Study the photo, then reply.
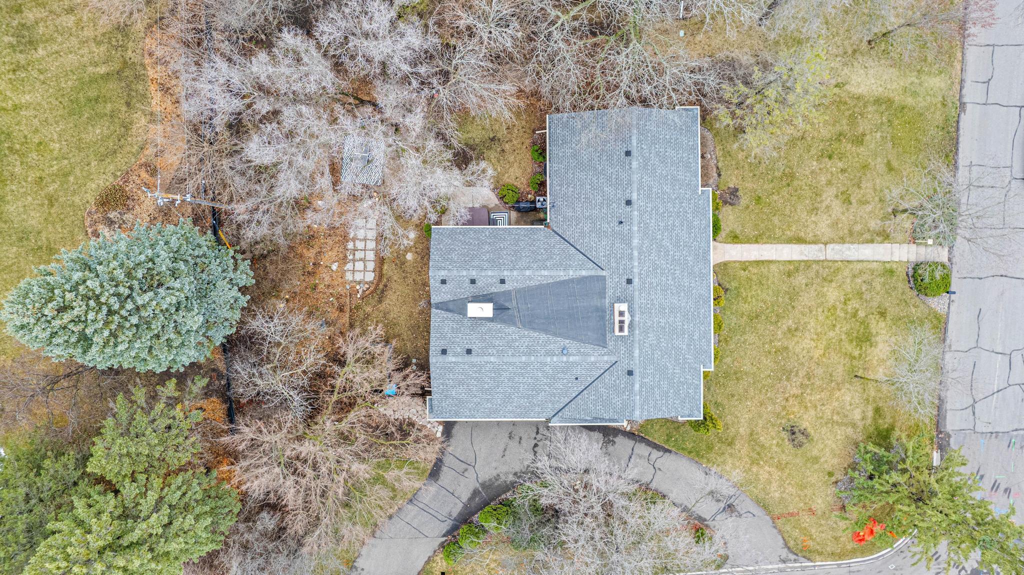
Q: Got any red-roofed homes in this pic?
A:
No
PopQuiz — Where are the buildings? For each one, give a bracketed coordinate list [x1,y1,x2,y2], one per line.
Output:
[426,105,714,426]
